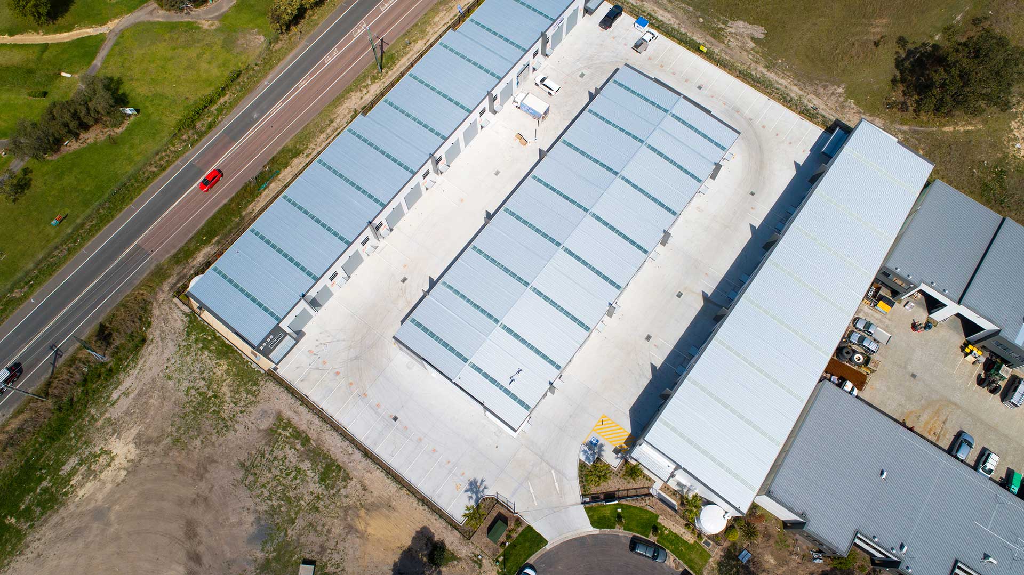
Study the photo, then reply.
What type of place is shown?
industrial area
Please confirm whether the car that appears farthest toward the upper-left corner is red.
Yes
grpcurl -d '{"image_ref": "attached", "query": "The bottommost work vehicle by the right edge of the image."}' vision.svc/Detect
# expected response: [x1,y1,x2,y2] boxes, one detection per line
[999,468,1024,491]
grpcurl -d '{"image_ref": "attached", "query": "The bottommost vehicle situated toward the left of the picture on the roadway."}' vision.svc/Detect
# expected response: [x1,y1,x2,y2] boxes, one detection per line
[199,169,226,191]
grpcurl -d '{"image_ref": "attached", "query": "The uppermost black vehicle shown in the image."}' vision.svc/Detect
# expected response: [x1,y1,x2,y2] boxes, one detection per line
[597,6,620,30]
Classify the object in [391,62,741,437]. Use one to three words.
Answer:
warehouse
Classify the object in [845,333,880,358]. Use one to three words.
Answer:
car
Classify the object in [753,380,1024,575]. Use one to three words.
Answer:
building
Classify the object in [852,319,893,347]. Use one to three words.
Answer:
truck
